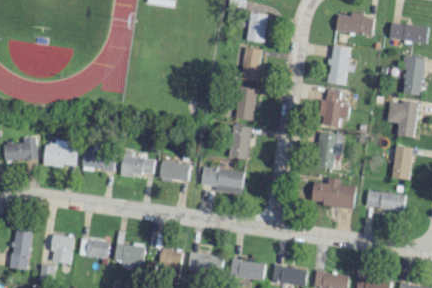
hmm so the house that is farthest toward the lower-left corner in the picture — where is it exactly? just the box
[9,232,32,270]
